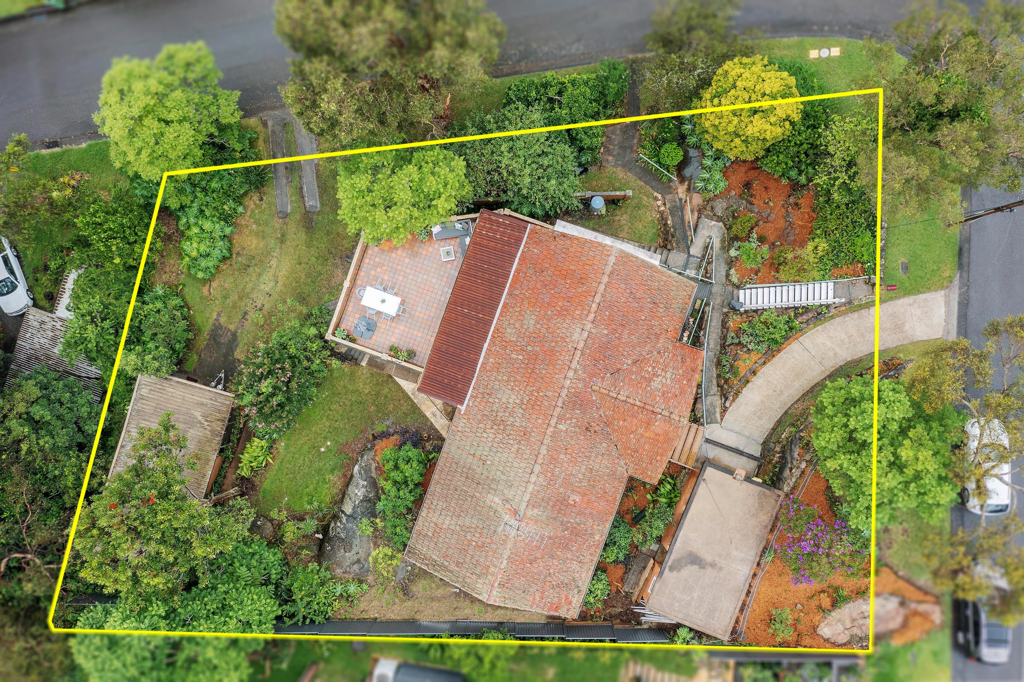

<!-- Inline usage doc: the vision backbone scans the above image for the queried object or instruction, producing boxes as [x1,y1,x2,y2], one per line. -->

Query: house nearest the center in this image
[402,208,706,621]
